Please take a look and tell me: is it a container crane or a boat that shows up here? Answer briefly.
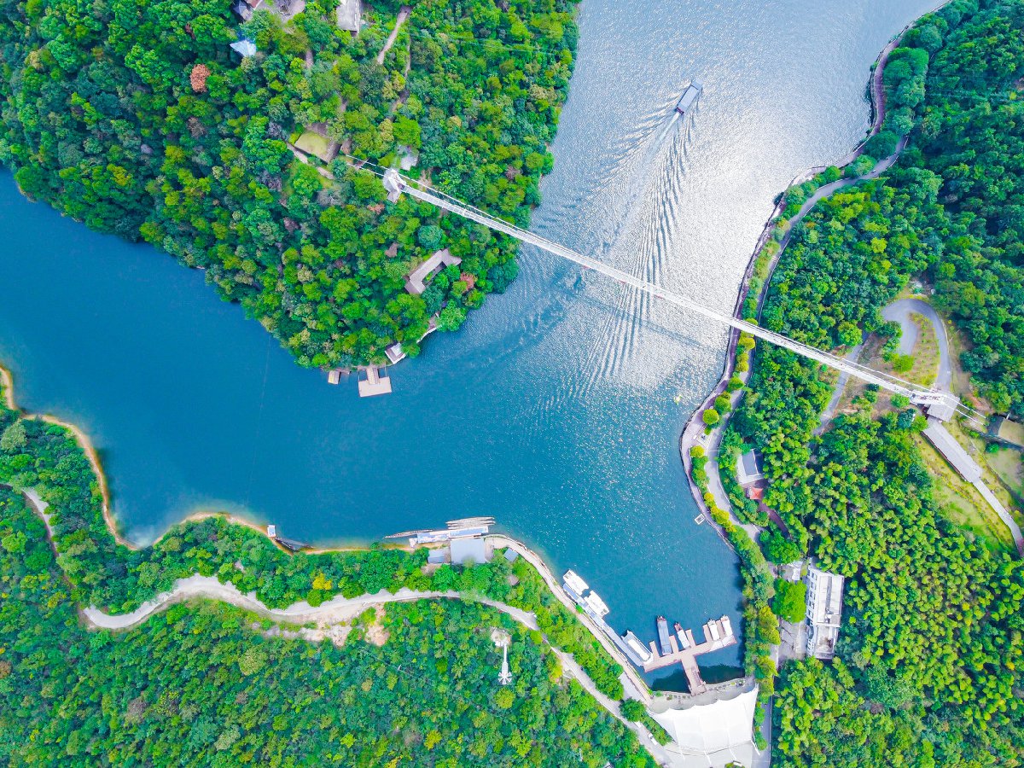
boat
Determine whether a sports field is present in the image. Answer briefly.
No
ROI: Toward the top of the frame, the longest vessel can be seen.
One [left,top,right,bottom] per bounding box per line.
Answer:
[677,76,706,112]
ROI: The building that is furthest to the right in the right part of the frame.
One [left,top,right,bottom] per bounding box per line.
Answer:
[984,418,1024,447]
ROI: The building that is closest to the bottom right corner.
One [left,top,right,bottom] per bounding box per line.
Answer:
[805,567,845,659]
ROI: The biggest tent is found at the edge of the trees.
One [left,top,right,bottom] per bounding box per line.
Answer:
[652,682,759,766]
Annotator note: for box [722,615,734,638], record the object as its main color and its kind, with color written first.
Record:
white boat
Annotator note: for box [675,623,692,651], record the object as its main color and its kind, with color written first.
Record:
white boat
